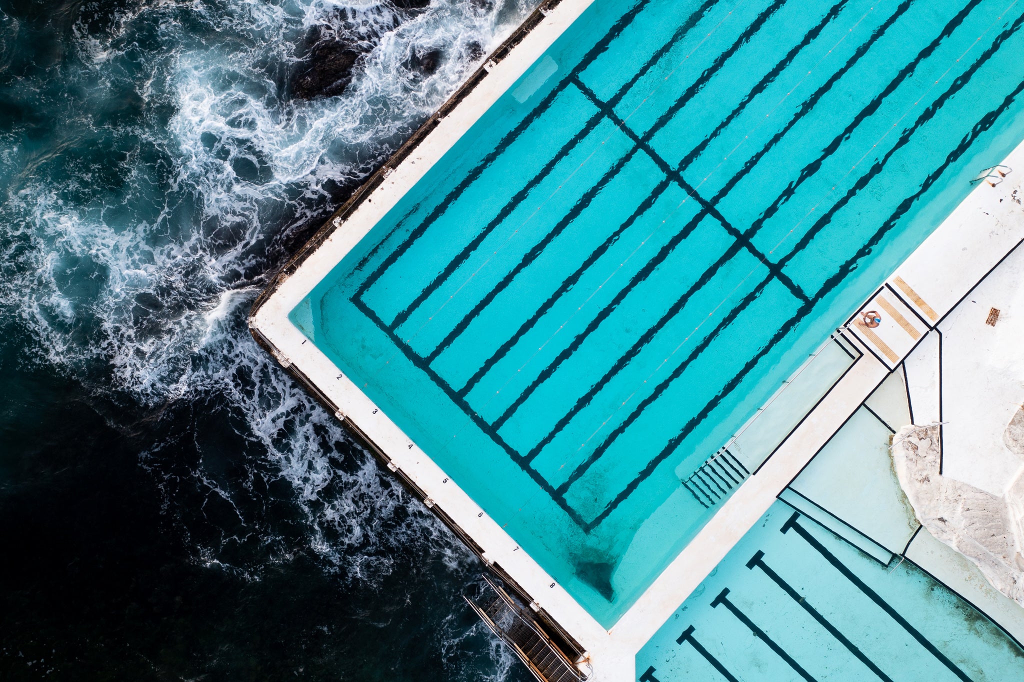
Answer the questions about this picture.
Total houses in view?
zero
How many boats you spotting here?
0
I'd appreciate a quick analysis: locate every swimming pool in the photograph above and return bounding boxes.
[290,0,1024,630]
